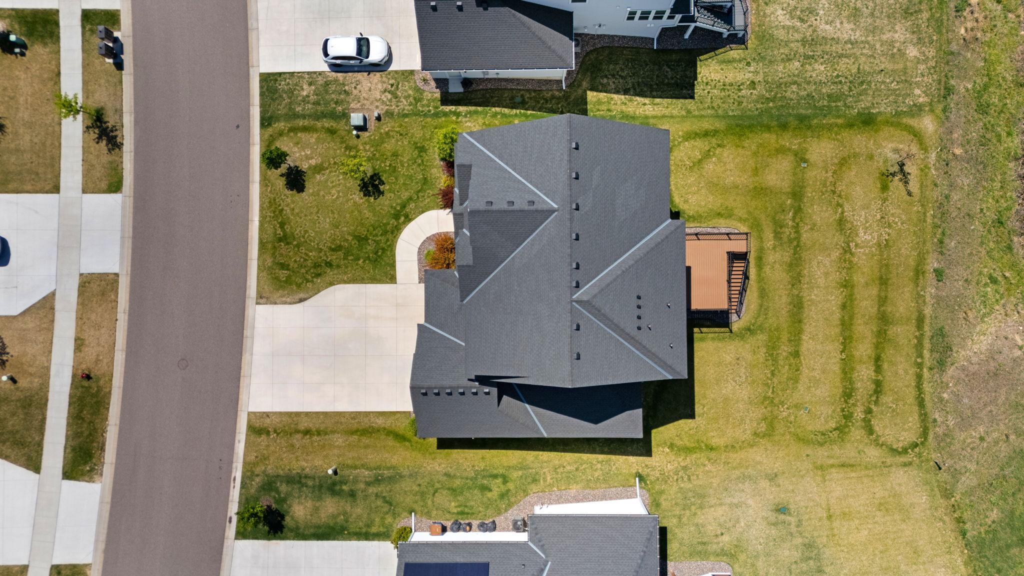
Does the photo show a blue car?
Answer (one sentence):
No, no blue car is visible in the view.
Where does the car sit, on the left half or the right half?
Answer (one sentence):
The car sits on the left side.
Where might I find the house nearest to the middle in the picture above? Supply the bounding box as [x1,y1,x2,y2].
[410,113,687,439]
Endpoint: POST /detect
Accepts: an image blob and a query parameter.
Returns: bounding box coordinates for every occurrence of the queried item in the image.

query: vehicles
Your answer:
[322,31,391,67]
